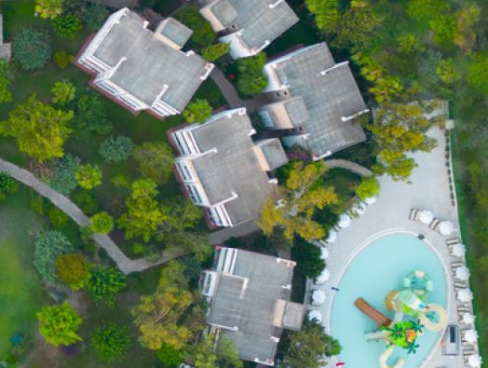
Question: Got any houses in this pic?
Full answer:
Yes, I can see a house in this picture.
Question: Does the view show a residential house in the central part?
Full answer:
Yes, a residential house shows up in the central part.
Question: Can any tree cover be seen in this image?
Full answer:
Yes, the picture does contain tree cover.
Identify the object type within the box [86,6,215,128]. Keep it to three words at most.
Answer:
house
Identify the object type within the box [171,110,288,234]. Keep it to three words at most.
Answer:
house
